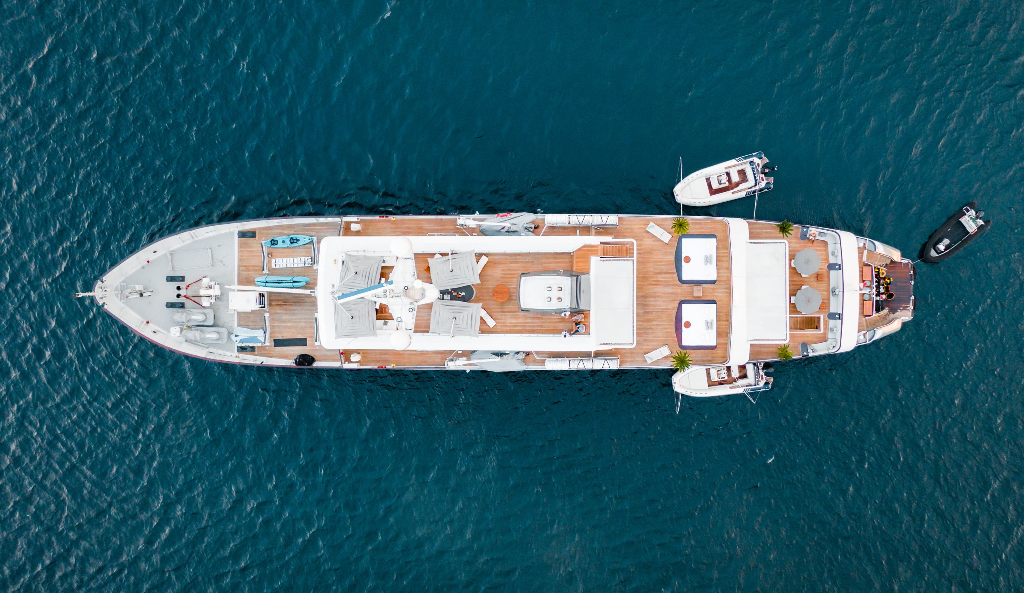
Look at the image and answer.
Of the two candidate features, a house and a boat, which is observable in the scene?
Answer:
boat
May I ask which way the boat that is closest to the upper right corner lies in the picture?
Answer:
diagonally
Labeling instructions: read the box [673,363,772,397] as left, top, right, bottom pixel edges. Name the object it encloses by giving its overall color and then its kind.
white boat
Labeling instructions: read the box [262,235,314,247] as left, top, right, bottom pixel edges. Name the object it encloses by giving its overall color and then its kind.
blue boat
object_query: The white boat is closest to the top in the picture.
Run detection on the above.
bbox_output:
[674,152,775,205]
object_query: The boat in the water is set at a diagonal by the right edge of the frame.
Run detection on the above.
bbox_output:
[925,203,990,263]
